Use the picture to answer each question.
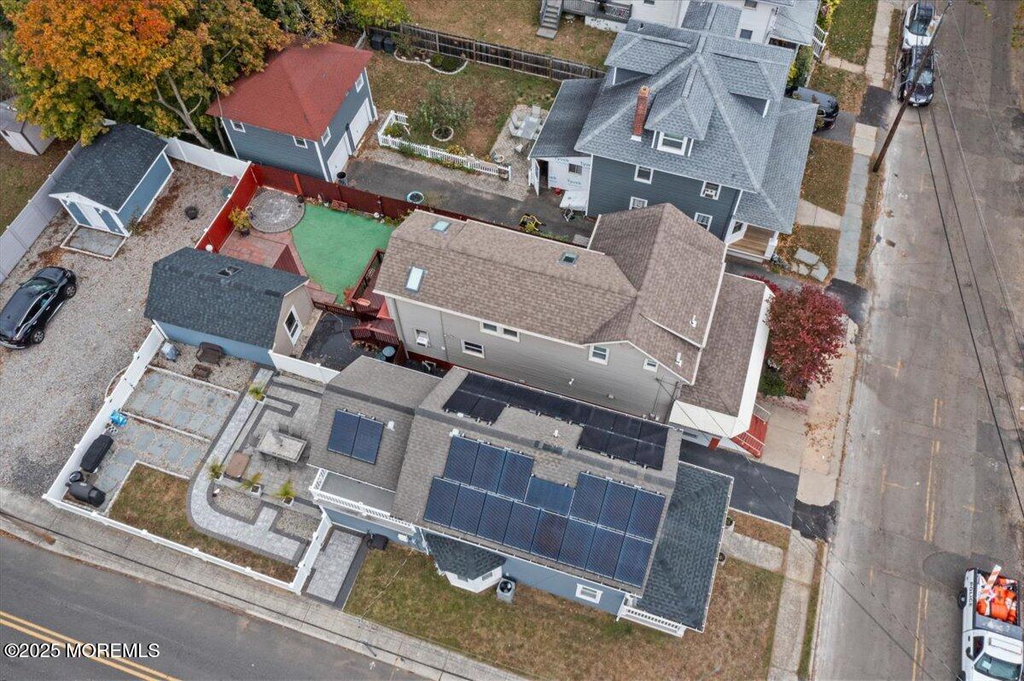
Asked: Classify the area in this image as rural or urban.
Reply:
urban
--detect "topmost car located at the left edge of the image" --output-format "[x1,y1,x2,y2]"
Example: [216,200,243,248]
[0,265,78,353]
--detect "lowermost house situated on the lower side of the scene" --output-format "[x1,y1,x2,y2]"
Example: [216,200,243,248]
[299,355,736,641]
